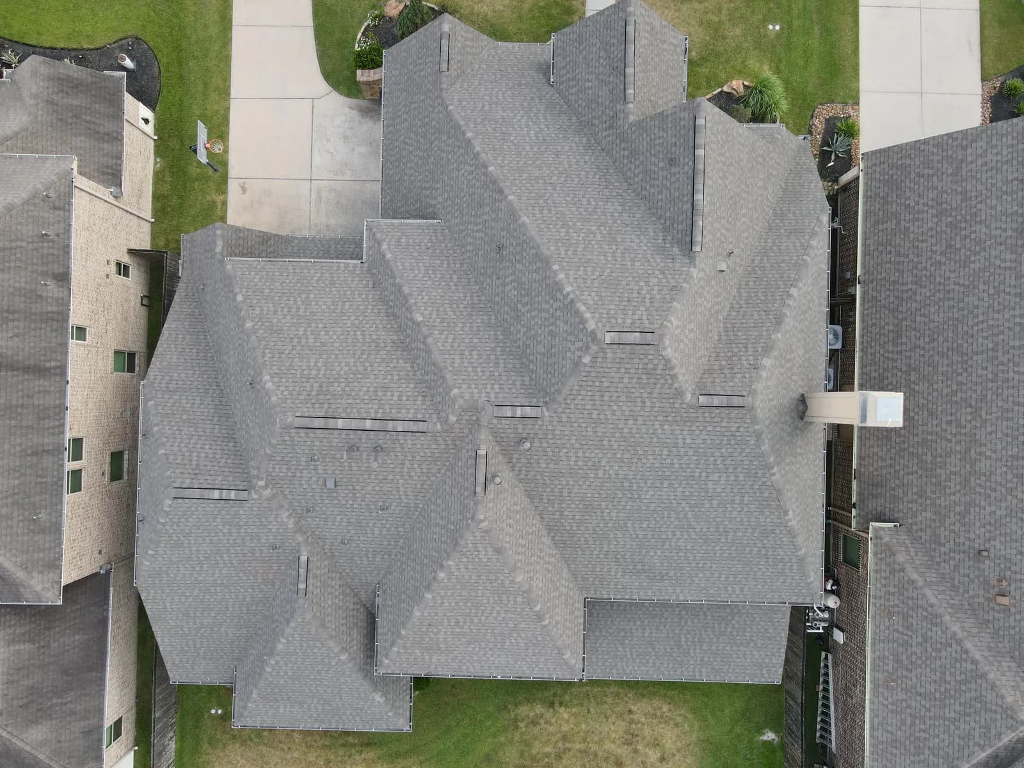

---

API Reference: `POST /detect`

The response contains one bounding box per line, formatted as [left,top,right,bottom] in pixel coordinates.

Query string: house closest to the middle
[134,0,902,731]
